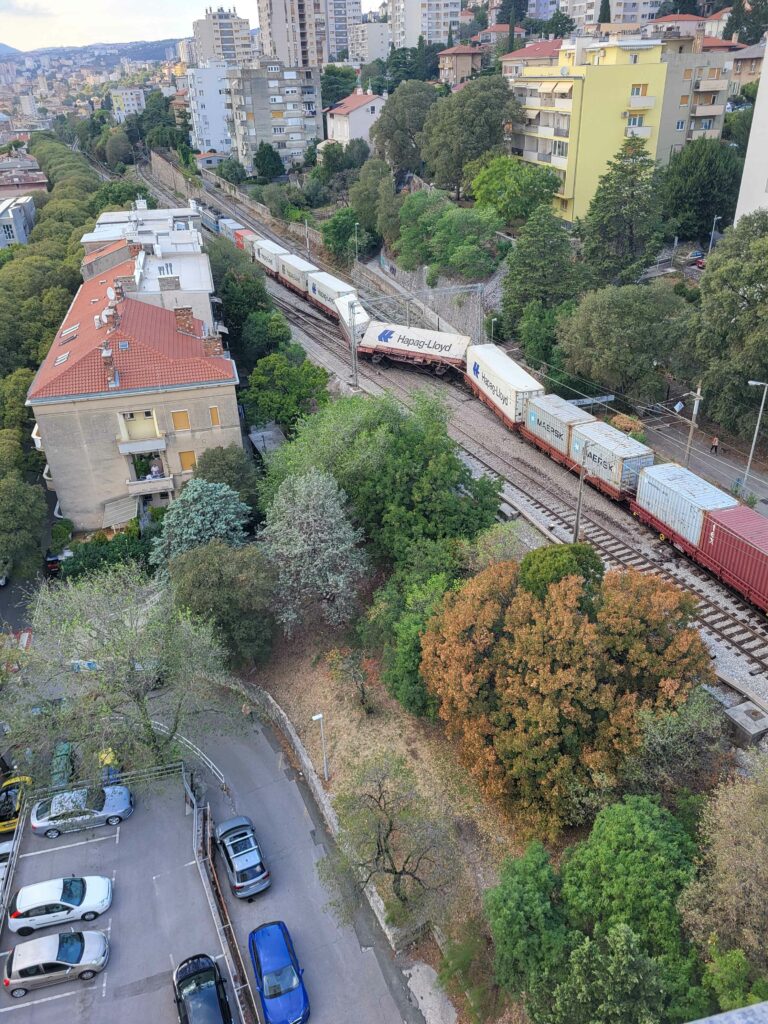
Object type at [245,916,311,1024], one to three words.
car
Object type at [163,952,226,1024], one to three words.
car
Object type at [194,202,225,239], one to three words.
rail car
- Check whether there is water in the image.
No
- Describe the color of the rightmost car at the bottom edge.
blue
